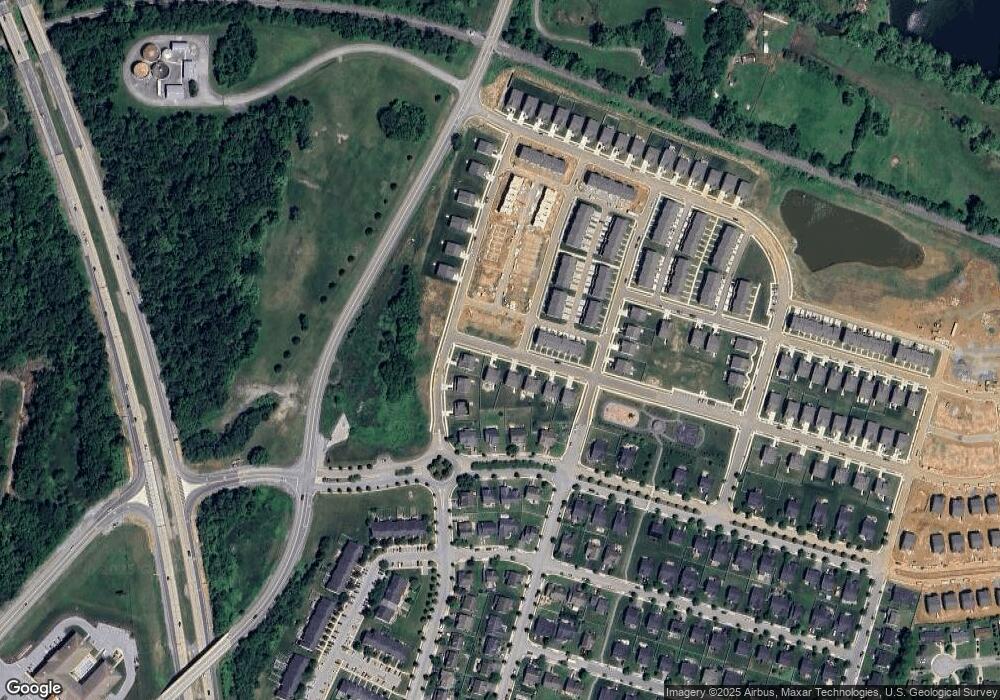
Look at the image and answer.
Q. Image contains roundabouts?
Yes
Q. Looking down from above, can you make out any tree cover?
Yes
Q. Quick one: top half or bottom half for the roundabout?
bottom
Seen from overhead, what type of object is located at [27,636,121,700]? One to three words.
building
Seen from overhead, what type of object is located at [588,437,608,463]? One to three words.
house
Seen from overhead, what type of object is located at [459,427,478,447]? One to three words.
house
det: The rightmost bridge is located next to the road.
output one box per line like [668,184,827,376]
[478,21,506,62]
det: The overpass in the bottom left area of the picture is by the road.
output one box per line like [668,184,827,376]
[155,632,234,700]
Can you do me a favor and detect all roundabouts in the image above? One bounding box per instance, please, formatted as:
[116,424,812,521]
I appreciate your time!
[415,443,466,493]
